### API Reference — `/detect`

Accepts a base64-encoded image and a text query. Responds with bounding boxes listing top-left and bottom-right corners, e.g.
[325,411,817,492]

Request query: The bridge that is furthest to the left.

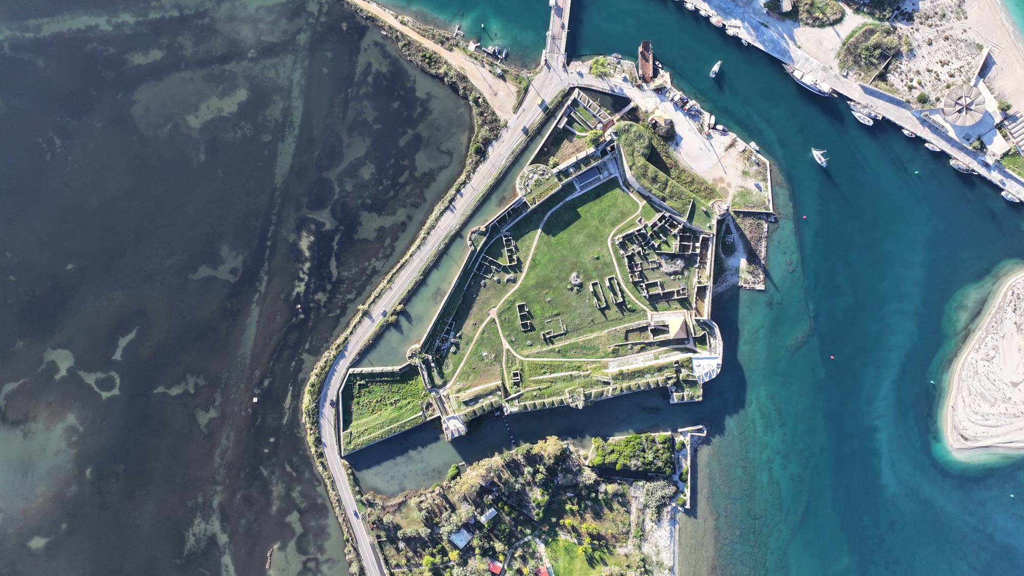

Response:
[545,0,571,57]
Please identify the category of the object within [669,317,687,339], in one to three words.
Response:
house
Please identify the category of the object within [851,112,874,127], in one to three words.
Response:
boat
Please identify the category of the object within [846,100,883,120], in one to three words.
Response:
boat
